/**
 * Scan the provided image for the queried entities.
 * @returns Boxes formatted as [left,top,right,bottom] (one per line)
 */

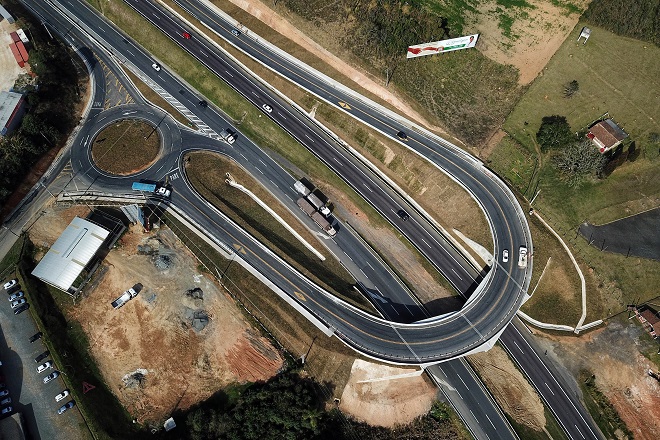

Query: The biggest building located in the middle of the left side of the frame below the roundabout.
[32,216,114,295]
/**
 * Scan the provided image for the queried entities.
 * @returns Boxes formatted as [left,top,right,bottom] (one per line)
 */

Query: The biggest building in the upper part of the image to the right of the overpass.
[583,120,625,154]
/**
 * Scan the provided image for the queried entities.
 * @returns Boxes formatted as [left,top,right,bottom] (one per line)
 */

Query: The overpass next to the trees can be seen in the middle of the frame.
[171,0,550,384]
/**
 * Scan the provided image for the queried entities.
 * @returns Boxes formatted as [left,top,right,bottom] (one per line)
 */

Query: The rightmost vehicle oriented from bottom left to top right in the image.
[113,287,138,309]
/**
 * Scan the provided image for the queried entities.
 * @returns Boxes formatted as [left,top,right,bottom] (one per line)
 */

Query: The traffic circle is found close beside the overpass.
[72,103,180,193]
